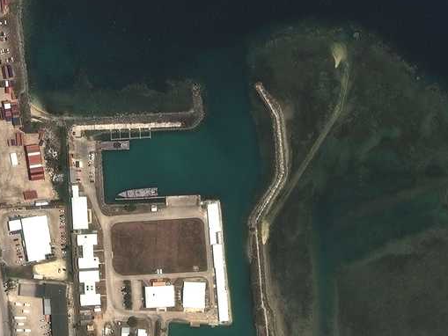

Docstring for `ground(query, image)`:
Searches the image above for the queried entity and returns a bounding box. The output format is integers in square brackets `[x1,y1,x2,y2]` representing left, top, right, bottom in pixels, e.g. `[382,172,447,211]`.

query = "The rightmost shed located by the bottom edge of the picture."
[214,245,229,323]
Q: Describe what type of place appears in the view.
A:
port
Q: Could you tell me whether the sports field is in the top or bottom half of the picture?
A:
bottom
